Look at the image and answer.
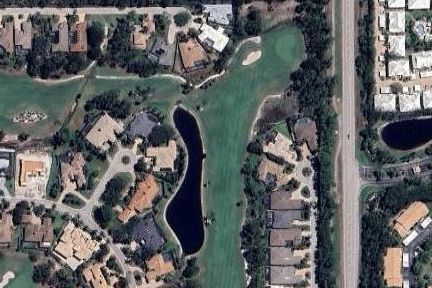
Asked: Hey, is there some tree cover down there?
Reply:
Yes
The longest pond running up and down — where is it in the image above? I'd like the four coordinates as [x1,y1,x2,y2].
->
[166,104,202,255]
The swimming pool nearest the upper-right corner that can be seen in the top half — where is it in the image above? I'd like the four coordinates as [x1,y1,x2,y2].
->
[414,21,428,39]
